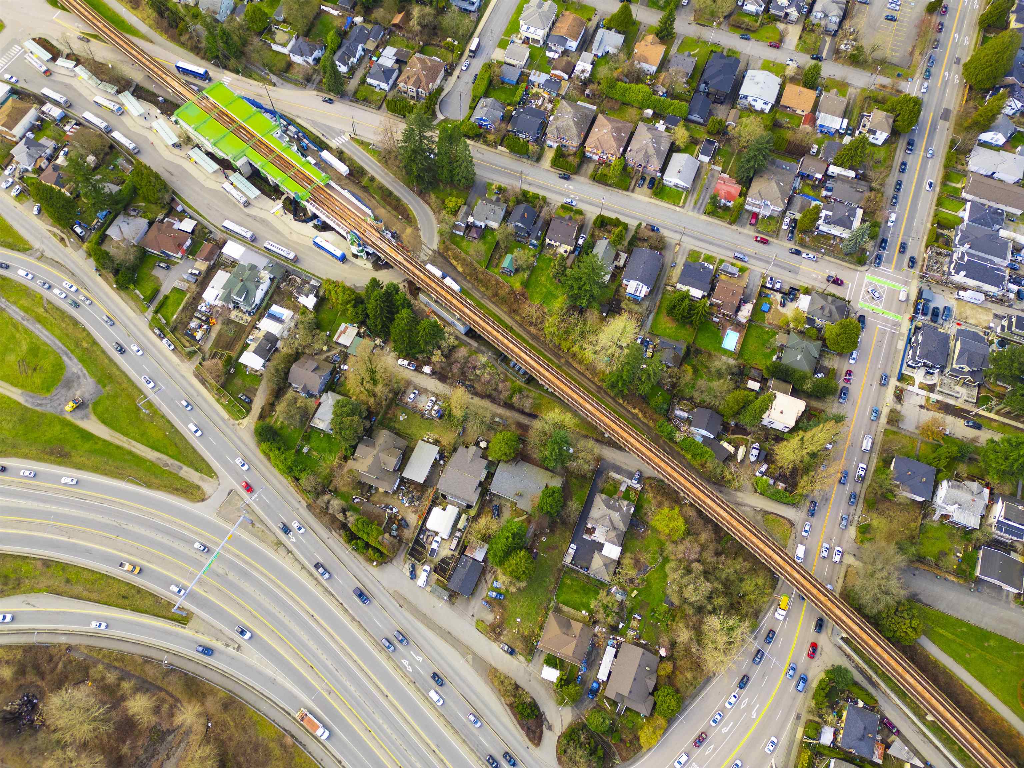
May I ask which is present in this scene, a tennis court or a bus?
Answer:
bus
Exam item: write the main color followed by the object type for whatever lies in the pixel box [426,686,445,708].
white vehicle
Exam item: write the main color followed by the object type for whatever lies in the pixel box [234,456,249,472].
white car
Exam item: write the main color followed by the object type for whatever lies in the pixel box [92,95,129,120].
white bus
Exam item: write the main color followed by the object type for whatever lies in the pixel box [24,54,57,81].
white bus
